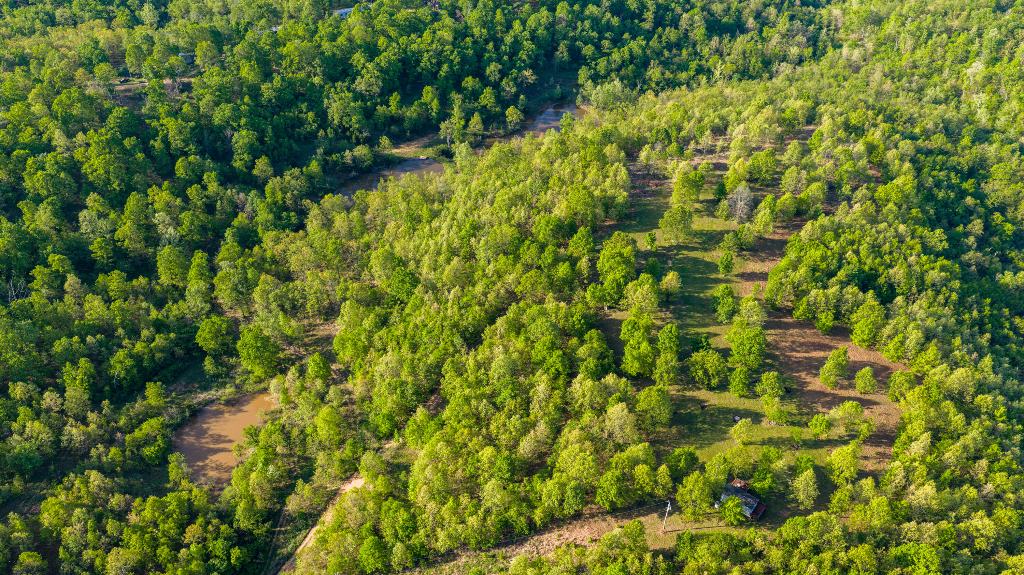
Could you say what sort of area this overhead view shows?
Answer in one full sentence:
The area seen from above is a forest.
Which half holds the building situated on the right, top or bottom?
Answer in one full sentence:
The building situated on the right sits in the bottom half of the picture.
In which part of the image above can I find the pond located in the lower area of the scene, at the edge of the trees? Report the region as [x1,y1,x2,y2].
[173,393,278,502]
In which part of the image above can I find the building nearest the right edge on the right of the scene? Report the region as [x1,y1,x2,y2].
[721,478,769,522]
